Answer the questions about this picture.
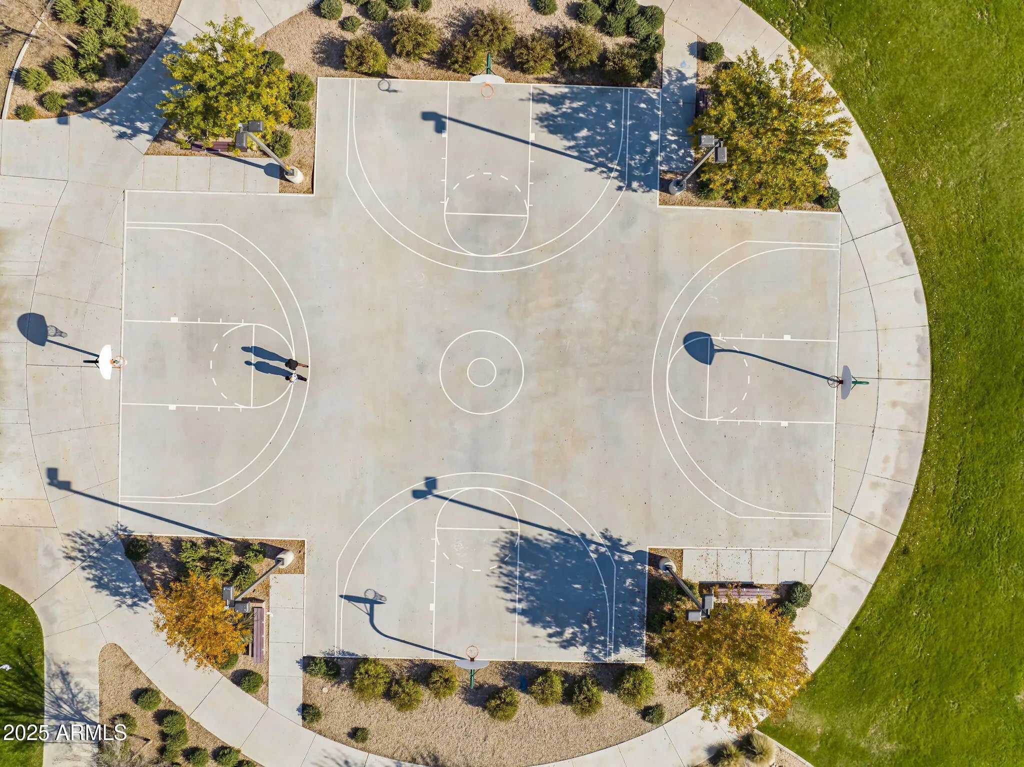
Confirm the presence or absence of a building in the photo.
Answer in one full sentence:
No, I find no building anywhere in the image.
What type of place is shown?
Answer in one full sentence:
What you see here is a sports ground.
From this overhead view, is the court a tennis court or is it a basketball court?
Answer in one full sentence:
It turns out the court is a basketball court.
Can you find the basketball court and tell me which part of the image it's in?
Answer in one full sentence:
The basketball court appears toward the center of the photo.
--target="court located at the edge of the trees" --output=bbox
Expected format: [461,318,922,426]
[119,78,841,663]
